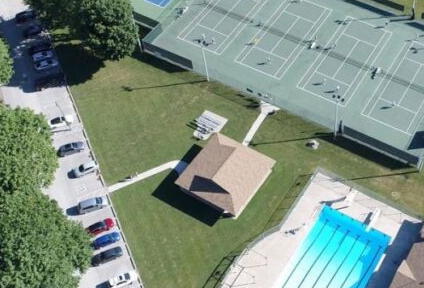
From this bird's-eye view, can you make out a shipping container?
No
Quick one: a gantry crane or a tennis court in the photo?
tennis court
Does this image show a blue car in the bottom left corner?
Yes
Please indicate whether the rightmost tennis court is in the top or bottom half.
top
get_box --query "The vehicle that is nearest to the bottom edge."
[107,272,138,288]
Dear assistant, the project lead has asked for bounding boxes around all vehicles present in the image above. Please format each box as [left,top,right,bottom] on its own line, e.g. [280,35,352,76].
[58,140,84,156]
[15,12,37,23]
[94,248,123,268]
[26,42,50,56]
[77,197,108,217]
[87,220,116,238]
[30,52,54,64]
[91,234,120,253]
[71,162,98,180]
[20,27,44,39]
[107,272,138,288]
[49,116,72,130]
